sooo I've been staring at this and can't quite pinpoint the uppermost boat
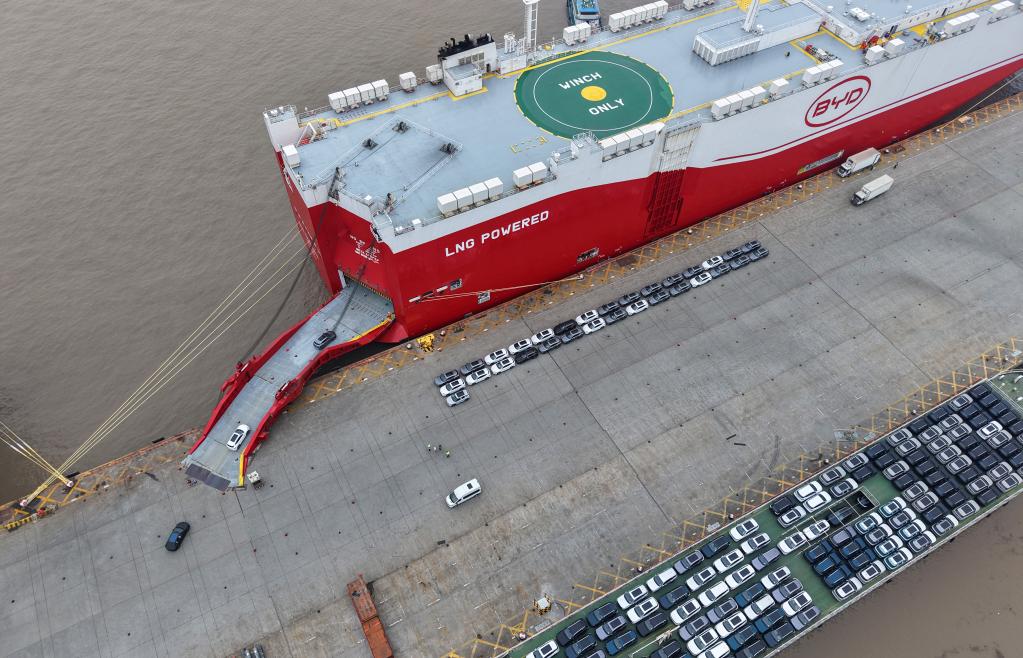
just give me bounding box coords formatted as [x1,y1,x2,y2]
[565,0,602,35]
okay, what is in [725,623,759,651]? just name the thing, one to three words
car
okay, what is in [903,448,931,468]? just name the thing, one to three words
car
